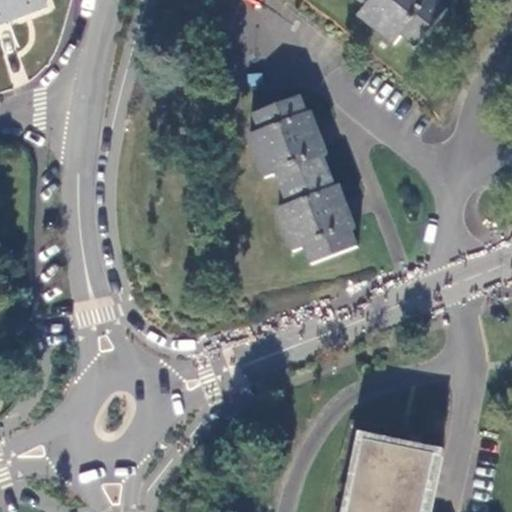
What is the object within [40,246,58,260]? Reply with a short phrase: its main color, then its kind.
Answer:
white car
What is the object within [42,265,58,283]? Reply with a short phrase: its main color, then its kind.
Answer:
white car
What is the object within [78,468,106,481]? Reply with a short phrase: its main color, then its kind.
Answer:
white vehicle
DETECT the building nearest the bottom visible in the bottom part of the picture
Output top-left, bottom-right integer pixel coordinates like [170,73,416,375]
[340,430,442,512]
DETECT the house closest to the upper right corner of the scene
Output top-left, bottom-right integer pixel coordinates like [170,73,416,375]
[356,0,446,45]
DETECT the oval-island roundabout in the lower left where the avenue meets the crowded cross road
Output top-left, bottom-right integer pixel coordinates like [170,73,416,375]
[0,296,231,512]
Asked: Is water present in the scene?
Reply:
No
